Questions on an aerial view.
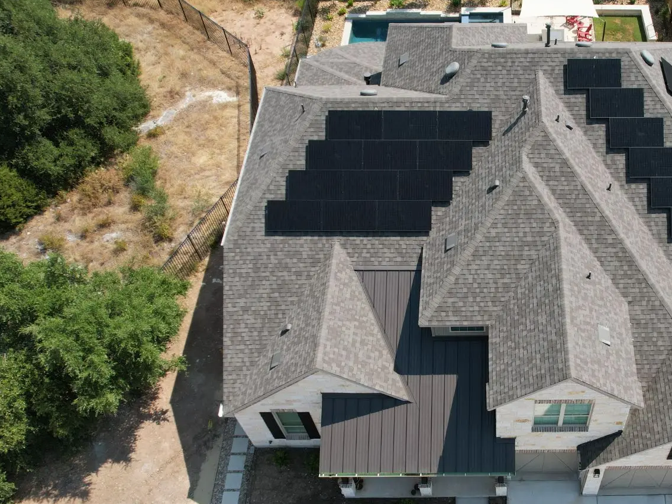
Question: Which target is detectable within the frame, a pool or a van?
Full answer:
Looking from above, you can make out a pool.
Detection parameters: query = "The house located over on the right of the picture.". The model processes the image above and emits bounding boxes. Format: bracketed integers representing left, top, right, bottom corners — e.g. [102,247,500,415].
[217,14,672,496]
